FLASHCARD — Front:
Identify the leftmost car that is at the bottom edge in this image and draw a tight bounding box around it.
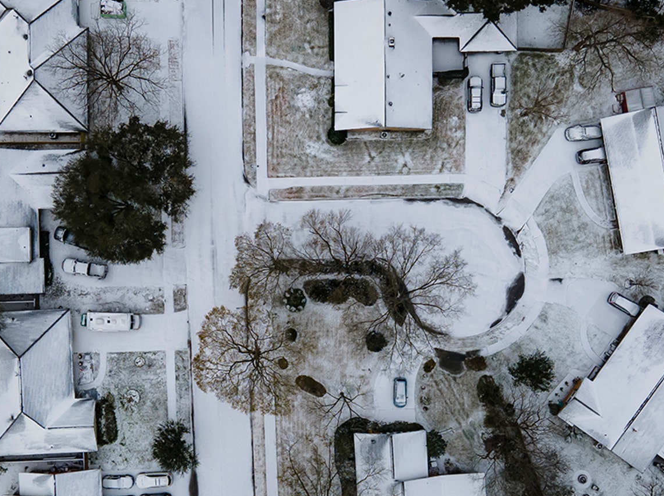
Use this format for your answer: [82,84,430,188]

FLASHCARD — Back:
[102,475,135,492]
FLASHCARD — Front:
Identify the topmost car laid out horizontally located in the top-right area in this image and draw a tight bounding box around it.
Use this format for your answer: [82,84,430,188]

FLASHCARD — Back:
[566,124,601,140]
